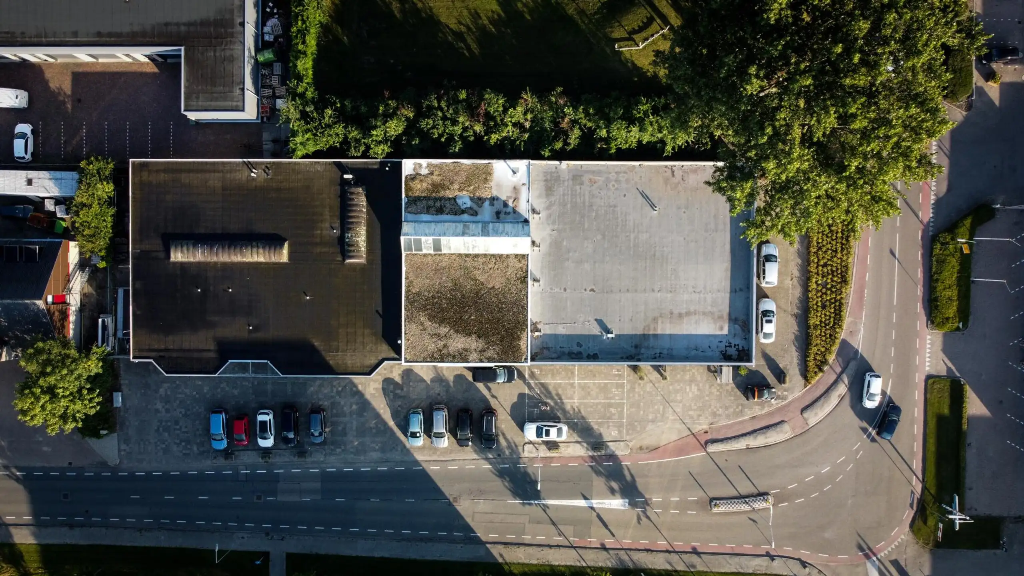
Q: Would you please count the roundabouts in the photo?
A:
0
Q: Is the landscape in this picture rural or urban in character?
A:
urban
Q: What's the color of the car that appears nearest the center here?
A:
black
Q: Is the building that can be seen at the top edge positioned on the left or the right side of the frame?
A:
left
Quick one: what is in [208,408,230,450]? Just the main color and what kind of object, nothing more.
blue car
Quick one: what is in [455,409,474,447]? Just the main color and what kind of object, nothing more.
black car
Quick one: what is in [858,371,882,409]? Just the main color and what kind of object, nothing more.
white car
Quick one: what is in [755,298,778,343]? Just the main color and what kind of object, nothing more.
white car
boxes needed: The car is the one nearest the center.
[472,366,517,386]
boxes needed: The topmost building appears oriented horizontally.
[0,0,264,126]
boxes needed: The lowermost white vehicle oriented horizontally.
[523,422,568,443]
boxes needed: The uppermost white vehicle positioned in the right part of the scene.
[757,243,780,287]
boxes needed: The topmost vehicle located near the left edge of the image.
[0,87,30,111]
